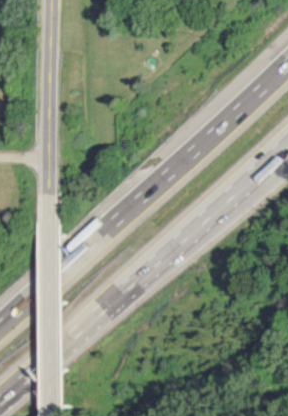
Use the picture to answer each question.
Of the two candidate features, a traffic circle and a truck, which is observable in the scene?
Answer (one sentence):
There is a truck in the scene.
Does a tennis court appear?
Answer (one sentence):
No, I can't see a single tennis court in this photo.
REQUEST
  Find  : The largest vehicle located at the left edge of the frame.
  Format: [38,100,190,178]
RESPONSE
[10,290,38,318]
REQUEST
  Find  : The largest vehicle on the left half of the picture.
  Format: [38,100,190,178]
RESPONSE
[64,222,102,257]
